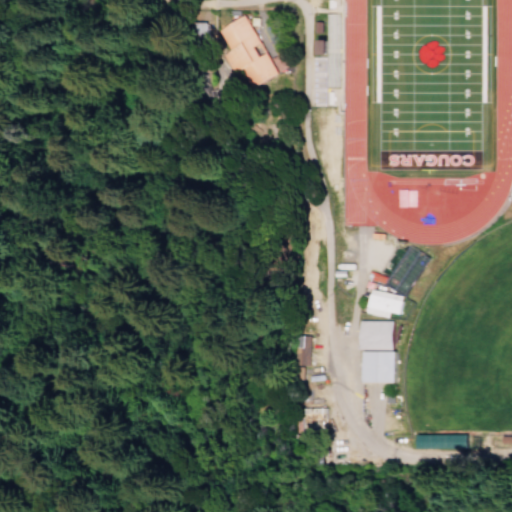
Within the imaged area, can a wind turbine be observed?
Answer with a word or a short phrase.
No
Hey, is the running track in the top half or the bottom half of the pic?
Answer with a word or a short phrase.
top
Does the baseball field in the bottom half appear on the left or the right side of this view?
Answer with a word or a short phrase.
right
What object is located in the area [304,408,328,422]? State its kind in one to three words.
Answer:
shed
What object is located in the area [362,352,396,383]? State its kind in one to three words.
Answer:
building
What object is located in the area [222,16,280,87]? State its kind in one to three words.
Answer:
house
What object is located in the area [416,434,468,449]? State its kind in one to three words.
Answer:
barn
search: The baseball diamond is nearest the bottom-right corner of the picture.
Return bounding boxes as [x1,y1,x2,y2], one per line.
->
[406,224,512,434]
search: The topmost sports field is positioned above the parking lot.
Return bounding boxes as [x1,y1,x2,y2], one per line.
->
[368,0,496,178]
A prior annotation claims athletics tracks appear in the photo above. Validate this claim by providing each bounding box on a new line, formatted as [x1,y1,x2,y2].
[346,0,512,247]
